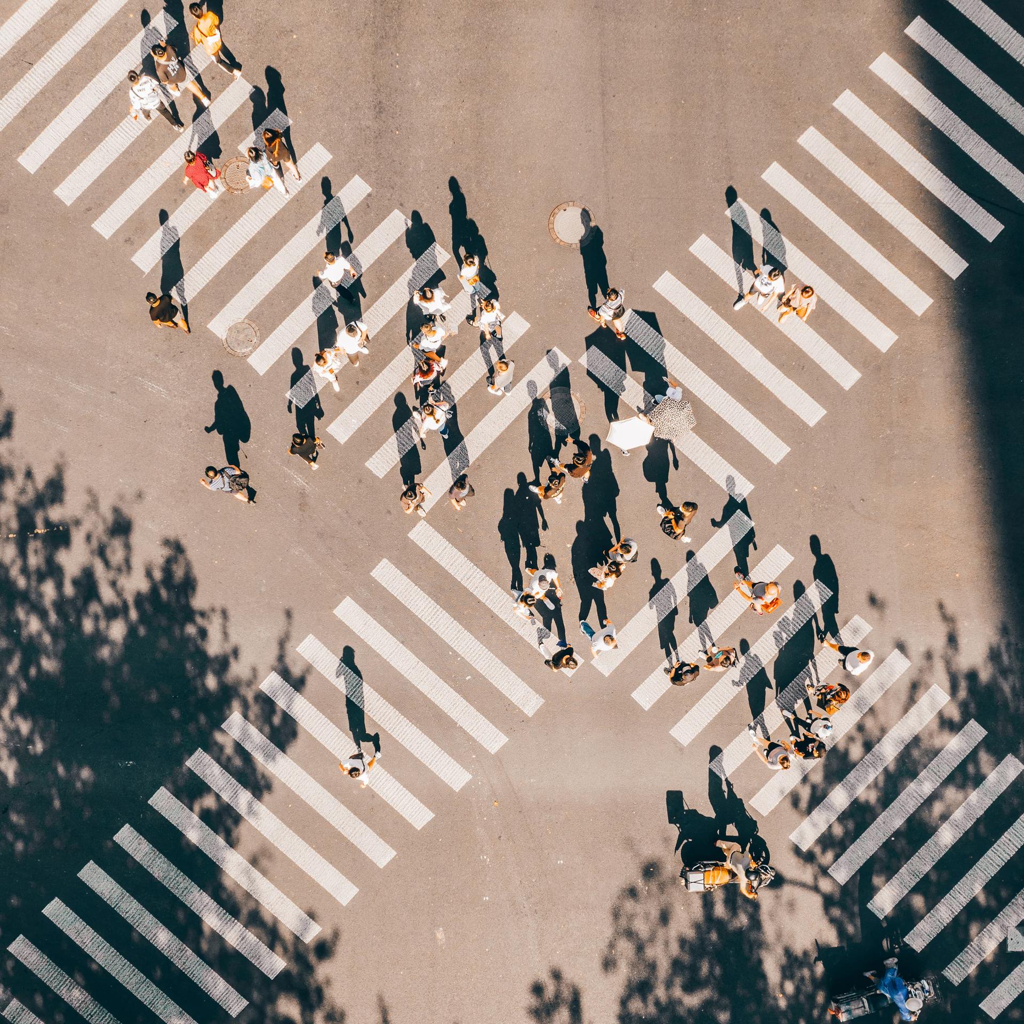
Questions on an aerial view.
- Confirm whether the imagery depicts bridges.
No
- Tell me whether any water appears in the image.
No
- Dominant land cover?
paved ground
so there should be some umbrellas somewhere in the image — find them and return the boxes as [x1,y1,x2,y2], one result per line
[603,408,656,453]
[647,393,695,442]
